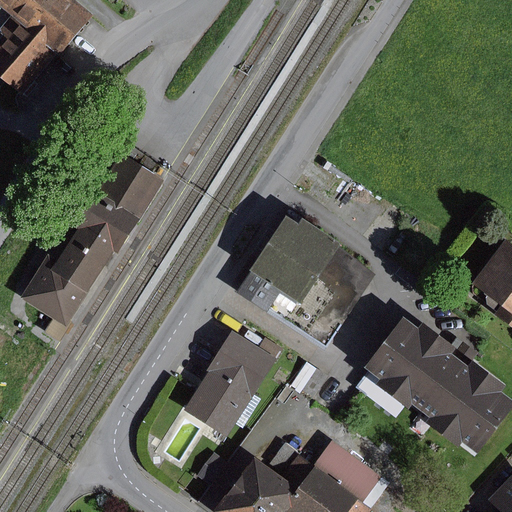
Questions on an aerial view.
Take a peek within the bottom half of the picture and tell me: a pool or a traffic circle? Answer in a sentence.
What appears within the bottom half of the picture is a pool.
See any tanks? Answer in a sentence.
No, no tank is visible in the view.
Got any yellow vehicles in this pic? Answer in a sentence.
Yes, a yellow vehicle appears in the view.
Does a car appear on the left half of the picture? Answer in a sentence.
Yes, you'll find a car on the left half of the picture.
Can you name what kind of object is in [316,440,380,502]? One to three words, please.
barn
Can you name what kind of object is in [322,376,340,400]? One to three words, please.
car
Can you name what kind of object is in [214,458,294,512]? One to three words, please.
house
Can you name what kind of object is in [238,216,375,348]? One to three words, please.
building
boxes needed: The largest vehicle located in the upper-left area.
[73,34,97,55]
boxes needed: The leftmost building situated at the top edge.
[0,0,92,95]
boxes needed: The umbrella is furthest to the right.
[411,416,432,436]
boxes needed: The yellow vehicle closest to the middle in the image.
[213,308,244,334]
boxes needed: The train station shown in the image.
[0,0,333,488]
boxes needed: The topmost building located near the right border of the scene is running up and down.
[474,240,512,326]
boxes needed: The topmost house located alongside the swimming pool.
[184,331,278,437]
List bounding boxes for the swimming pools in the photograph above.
[155,410,223,469]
